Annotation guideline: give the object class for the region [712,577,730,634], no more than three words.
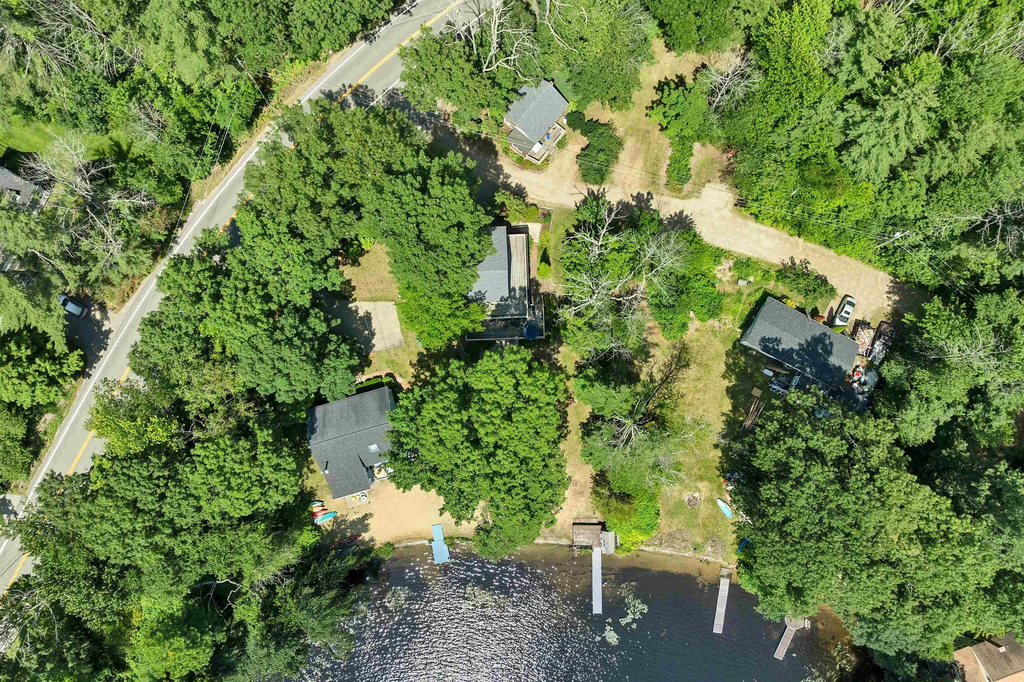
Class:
pier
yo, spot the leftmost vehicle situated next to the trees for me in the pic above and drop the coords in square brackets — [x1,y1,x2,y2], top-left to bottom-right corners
[64,294,90,321]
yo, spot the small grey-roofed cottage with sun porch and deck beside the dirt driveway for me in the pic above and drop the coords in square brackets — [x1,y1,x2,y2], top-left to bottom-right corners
[499,79,569,159]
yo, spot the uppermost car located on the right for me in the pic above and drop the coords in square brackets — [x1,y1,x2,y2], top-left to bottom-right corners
[831,293,858,325]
